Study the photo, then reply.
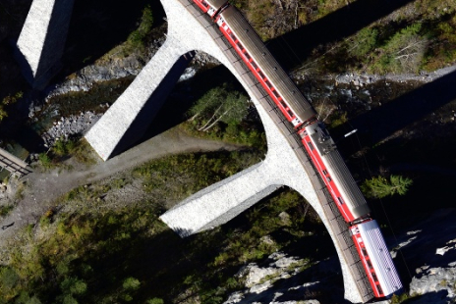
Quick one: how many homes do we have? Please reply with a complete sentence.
The count of homes is 0.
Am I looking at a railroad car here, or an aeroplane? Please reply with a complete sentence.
Looking from above, you can make out a railroad car.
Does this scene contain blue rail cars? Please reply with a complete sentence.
No, no blue rail car is visible in the view.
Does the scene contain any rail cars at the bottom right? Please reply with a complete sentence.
Yes, a rail car appears at the bottom right.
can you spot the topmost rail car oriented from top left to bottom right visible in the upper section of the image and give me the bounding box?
[211,2,317,130]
